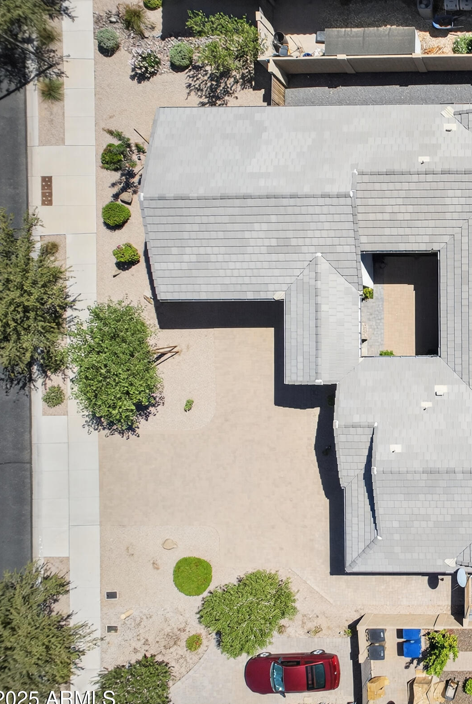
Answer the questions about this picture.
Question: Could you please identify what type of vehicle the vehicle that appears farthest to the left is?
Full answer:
The vehicle that appears farthest to the left can be classified as an automobile.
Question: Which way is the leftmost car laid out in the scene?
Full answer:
The leftmost car is oriented from side to side.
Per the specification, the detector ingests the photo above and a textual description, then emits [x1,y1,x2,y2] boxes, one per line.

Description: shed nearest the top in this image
[324,25,417,56]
